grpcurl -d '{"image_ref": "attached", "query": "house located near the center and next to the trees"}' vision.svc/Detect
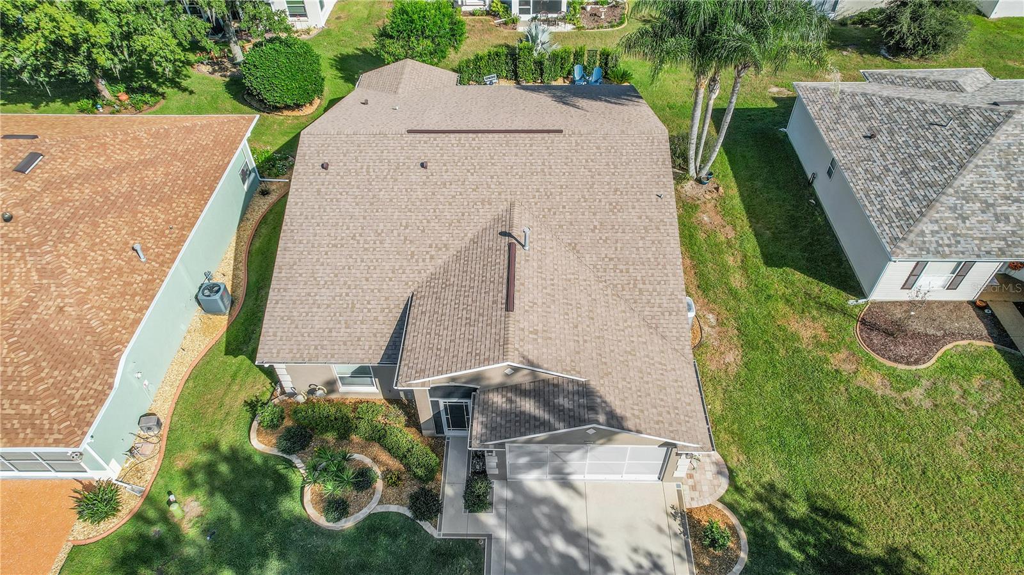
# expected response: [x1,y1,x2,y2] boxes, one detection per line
[251,57,717,484]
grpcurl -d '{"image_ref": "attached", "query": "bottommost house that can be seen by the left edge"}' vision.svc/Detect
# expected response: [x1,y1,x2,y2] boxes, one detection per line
[0,113,292,488]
